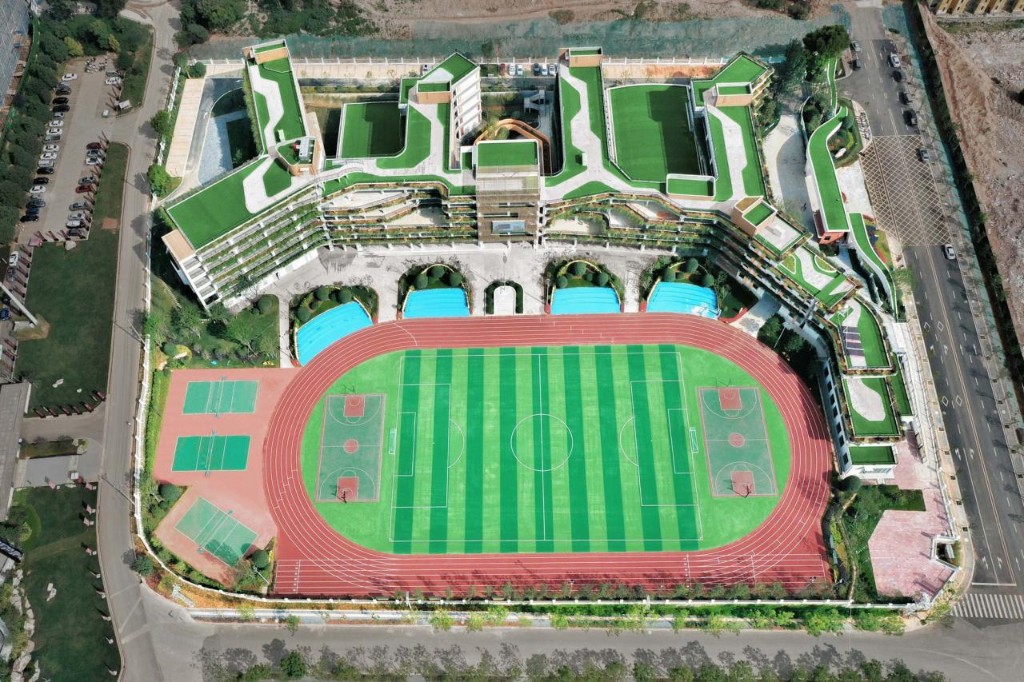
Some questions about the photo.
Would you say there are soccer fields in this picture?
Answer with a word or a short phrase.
Yes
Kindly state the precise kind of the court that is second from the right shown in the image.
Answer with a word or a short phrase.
basketball court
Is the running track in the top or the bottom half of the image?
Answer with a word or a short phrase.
bottom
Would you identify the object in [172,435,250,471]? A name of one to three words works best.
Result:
sports court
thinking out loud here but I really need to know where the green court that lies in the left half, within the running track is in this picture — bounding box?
[313,393,387,503]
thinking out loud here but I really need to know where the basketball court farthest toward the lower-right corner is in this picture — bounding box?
[697,385,779,498]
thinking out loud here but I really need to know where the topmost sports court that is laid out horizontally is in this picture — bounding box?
[182,381,259,414]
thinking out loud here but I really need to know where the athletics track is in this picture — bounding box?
[263,311,834,597]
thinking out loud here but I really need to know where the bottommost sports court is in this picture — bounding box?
[175,496,258,567]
